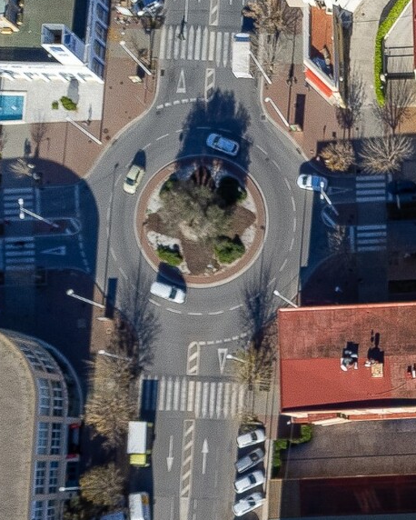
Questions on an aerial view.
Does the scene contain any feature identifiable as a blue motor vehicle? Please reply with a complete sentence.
Yes, there is a blue motor vehicle in the image.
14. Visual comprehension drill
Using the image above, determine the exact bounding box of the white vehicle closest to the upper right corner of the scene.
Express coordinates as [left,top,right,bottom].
[228,34,251,77]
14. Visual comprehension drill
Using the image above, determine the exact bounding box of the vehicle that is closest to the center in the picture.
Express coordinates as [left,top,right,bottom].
[147,282,188,303]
